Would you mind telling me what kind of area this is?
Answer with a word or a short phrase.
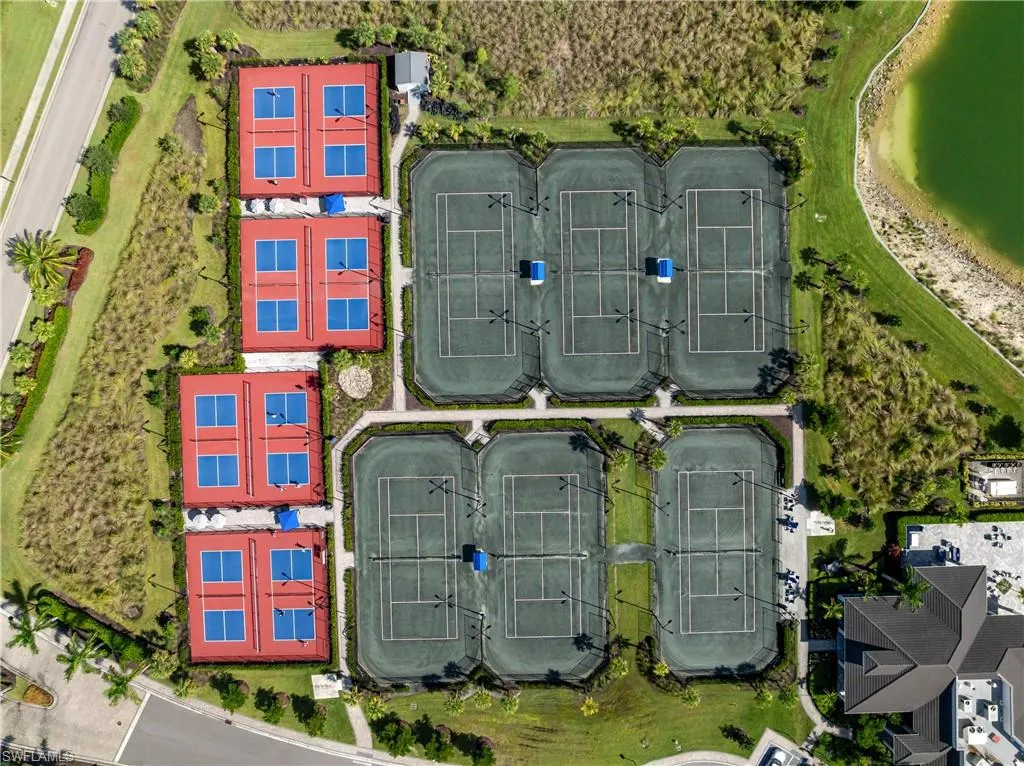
sports ground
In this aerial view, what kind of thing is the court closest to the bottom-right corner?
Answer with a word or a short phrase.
tennis court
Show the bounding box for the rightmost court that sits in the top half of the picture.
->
[661,146,792,397]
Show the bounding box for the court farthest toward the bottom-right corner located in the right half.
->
[653,426,779,675]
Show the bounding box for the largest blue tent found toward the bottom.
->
[278,506,305,531]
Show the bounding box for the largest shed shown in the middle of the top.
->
[395,52,429,94]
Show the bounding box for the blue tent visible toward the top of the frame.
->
[325,194,351,218]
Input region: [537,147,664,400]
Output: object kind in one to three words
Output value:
tennis court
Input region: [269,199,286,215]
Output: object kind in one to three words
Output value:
umbrella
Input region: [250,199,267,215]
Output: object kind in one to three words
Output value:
umbrella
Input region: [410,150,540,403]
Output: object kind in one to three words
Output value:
tennis court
